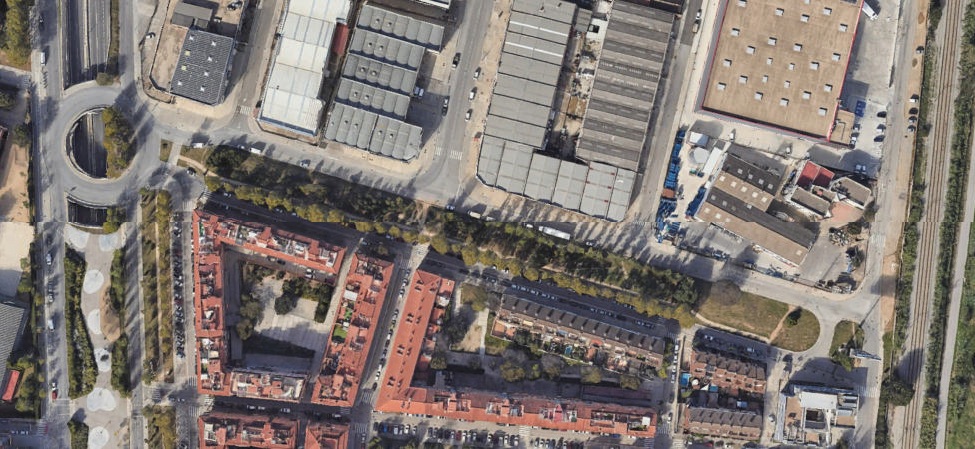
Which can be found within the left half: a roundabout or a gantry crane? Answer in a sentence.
The feature located within the left half is a roundabout.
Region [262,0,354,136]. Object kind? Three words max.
building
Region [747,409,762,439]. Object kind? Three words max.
house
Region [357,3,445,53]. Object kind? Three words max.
shed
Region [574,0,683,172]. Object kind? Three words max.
building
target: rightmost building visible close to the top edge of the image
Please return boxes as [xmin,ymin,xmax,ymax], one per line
[694,0,865,147]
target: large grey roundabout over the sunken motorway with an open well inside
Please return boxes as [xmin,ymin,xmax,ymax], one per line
[41,71,161,225]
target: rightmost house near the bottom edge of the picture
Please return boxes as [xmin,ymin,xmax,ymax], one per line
[771,381,859,447]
